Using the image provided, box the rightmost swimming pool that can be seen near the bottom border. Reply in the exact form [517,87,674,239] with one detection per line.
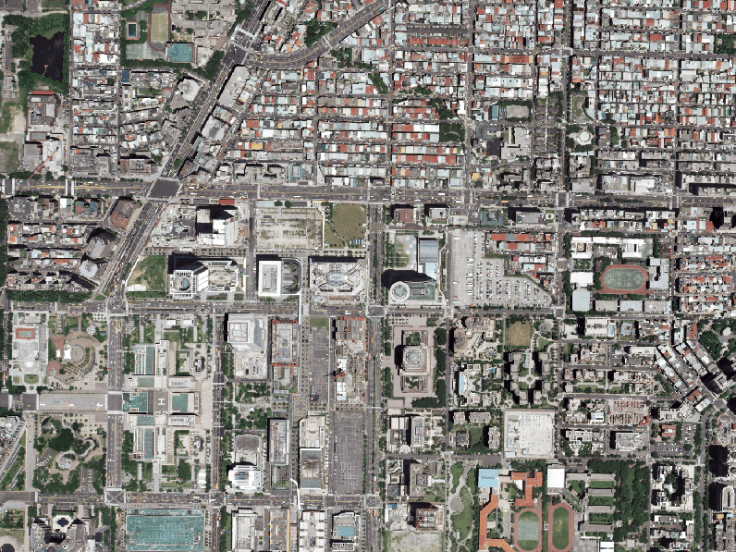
[53,515,71,531]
